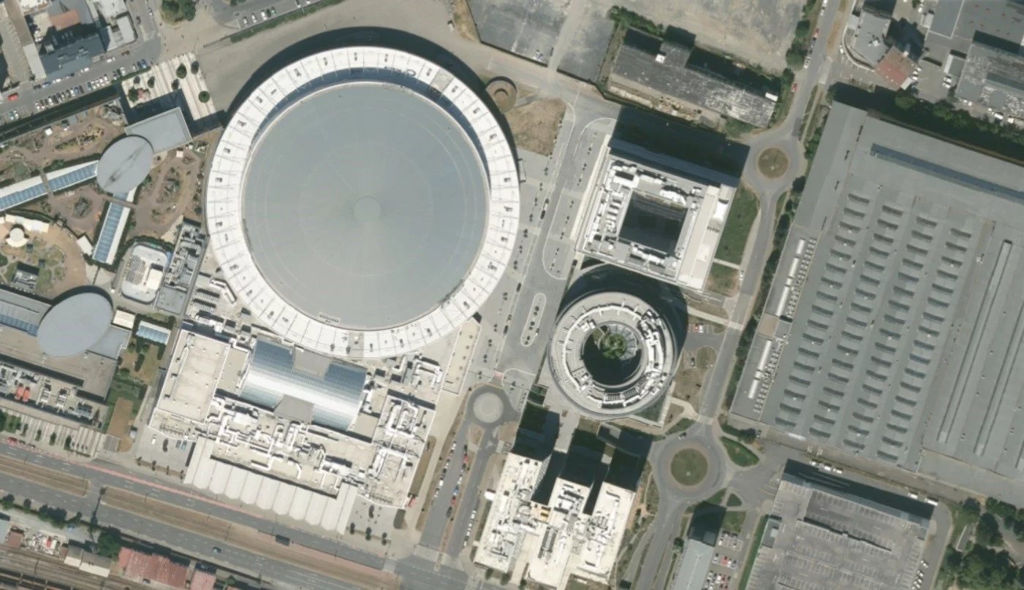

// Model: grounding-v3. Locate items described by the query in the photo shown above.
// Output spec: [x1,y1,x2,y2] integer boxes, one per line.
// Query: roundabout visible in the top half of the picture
[746,135,800,189]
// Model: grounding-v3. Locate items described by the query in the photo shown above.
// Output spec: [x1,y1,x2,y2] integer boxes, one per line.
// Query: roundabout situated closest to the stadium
[464,382,512,425]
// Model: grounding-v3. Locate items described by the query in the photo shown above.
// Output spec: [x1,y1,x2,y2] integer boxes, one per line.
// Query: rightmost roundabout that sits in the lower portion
[652,430,725,497]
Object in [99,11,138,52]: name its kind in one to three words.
house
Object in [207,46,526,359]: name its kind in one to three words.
stadium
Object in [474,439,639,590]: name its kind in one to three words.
building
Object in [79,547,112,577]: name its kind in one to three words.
shed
